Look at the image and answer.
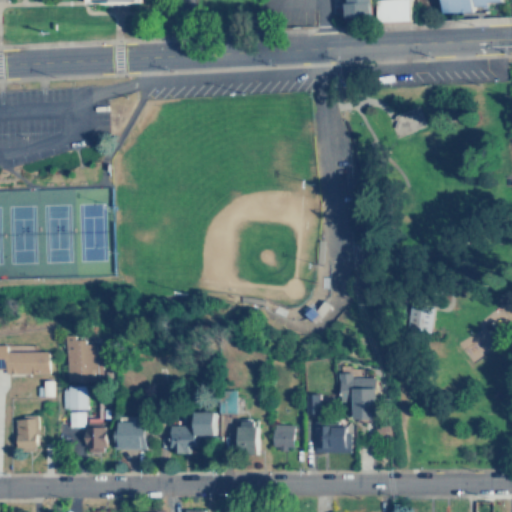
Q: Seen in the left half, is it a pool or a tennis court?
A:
tennis court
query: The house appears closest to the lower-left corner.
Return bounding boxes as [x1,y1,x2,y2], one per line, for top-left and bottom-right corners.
[17,416,42,452]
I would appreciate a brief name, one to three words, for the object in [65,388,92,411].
barn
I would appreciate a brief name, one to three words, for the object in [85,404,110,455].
house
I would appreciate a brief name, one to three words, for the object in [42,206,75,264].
tennis court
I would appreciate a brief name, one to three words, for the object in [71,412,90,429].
building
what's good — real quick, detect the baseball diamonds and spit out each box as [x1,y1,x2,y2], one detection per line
[118,94,322,307]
